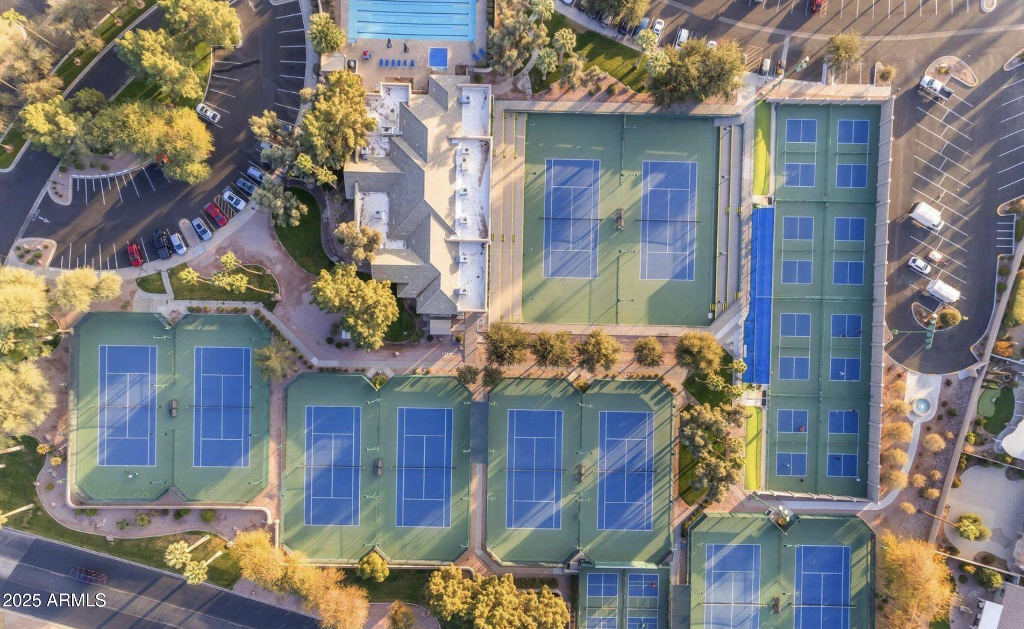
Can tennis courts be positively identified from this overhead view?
Yes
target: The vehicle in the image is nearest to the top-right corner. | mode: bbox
[920,78,953,100]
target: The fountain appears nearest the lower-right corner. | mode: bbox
[911,396,932,418]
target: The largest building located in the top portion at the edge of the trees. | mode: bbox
[343,75,493,314]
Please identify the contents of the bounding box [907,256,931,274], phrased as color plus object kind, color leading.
white car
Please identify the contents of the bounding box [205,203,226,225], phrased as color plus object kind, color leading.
red car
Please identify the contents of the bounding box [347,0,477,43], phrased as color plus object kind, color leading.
blue swimming pool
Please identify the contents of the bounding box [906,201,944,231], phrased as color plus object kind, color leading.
white truck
